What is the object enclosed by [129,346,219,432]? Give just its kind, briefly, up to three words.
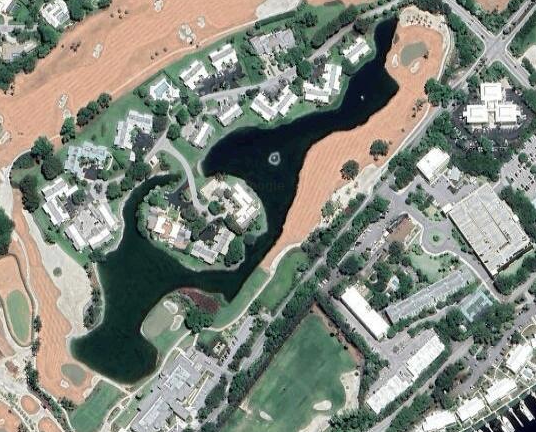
building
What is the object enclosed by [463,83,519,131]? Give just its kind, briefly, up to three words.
building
